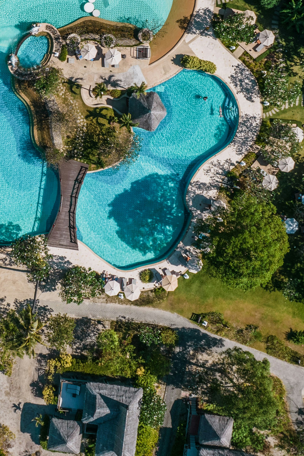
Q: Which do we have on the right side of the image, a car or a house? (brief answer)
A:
house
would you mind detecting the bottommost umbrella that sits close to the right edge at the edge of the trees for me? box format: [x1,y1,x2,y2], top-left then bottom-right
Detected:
[283,219,298,233]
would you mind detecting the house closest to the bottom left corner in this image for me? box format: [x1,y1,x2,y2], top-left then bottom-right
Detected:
[47,415,82,455]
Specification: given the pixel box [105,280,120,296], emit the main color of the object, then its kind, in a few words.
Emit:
white umbrella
